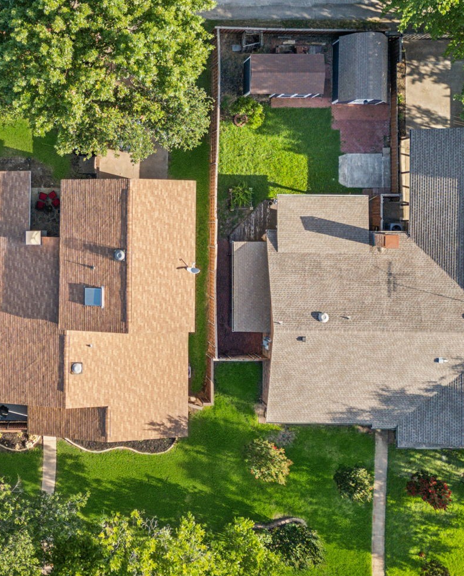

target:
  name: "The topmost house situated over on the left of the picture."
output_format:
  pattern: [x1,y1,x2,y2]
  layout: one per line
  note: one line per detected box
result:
[0,172,195,441]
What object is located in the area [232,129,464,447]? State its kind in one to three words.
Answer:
house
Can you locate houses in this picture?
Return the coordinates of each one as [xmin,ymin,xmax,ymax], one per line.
[232,129,464,447]
[0,172,195,441]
